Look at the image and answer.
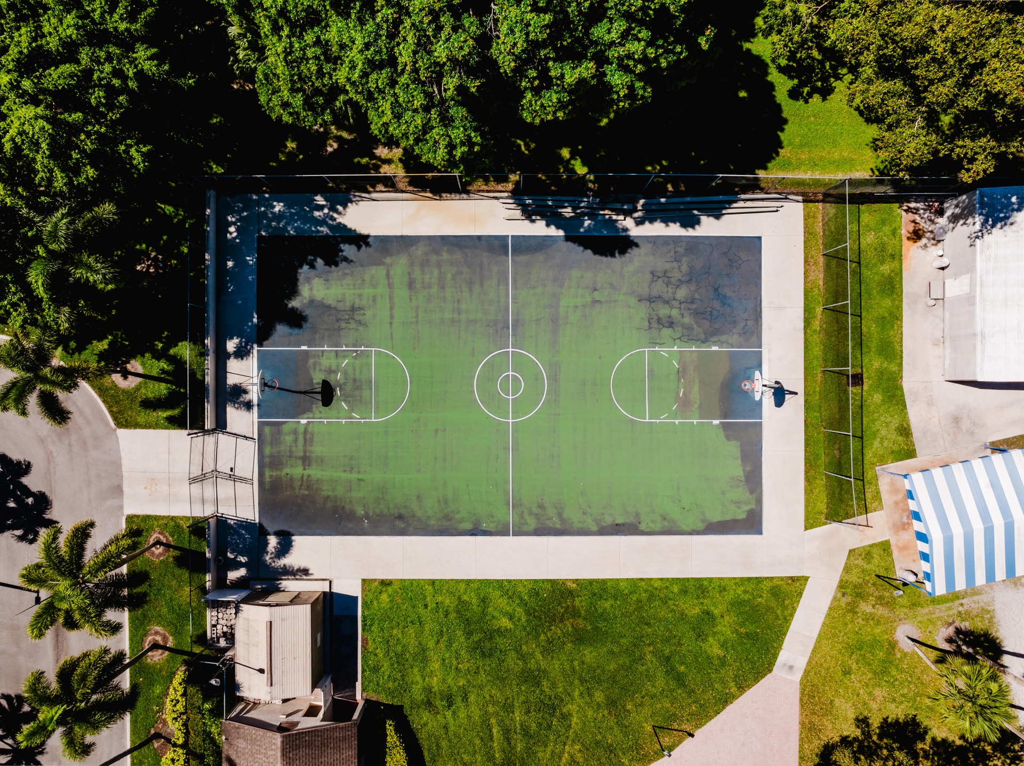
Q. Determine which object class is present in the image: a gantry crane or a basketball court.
basketball court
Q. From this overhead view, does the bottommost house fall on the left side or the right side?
left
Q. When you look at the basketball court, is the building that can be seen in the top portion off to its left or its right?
to the right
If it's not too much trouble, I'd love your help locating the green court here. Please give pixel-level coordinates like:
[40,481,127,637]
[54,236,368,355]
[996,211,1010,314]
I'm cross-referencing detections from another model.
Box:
[257,235,762,535]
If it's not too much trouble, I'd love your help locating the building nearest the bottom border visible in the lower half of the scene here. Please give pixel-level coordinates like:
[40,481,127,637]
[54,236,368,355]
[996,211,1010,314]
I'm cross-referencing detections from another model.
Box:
[217,676,368,766]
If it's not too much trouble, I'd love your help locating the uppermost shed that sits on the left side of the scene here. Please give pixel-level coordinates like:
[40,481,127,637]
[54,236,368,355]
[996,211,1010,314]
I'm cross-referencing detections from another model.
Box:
[235,590,323,704]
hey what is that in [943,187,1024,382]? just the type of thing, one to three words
building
